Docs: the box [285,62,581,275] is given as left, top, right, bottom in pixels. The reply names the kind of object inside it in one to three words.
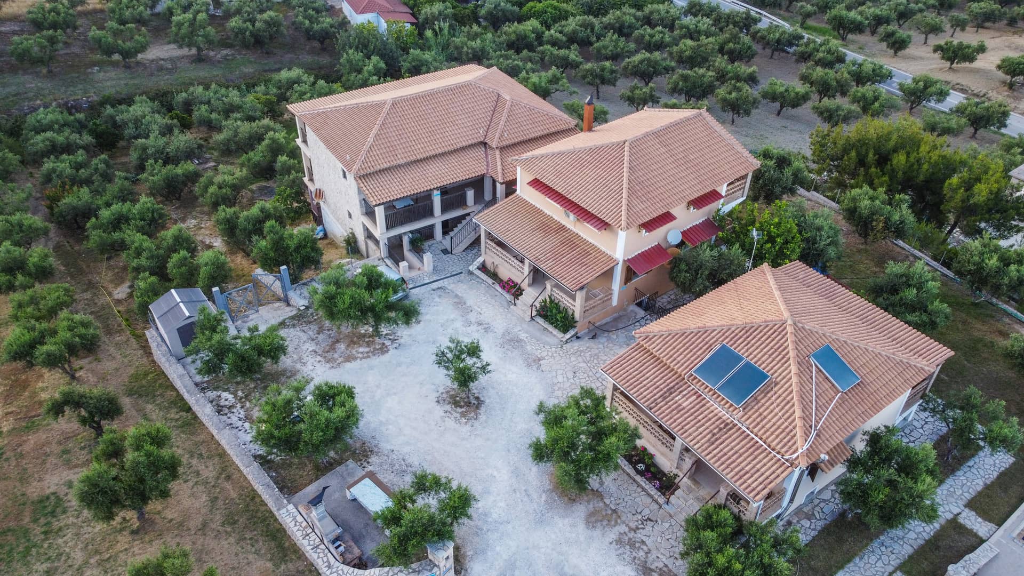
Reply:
house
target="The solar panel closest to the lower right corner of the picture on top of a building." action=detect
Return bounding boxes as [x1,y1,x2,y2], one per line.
[810,345,862,395]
